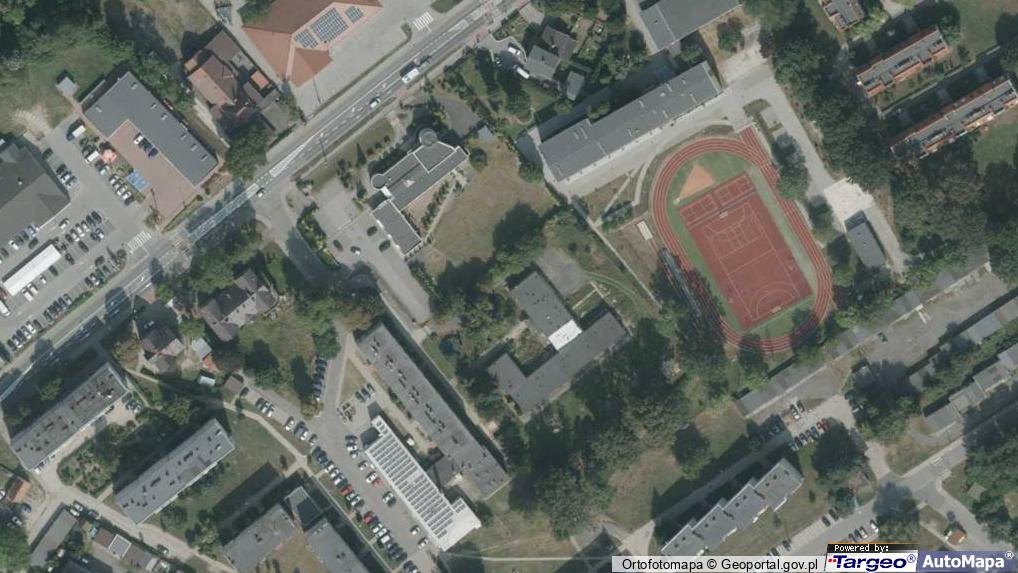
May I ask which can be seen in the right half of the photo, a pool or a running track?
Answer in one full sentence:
The one visible in the right half of the photo is a running track.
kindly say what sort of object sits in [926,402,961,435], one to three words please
building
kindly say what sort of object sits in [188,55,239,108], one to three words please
house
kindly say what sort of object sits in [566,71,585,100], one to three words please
shed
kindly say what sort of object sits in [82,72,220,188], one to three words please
building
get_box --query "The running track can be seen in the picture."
[649,125,833,354]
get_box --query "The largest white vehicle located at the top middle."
[400,65,423,84]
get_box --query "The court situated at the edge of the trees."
[679,171,812,328]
